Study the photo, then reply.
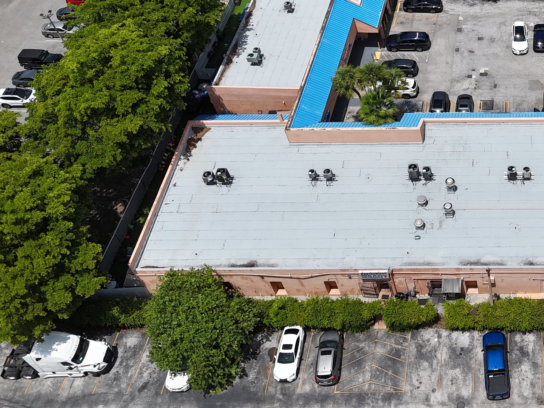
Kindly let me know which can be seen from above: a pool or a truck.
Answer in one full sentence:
Of the two, only a truck appears.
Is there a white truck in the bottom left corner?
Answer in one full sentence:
Yes, a white truck can be seen in the bottom left corner.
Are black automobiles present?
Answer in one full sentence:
Yes, there's a black automobile down there.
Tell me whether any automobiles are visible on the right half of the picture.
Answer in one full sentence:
Yes, an automobile appears on the right half of the picture.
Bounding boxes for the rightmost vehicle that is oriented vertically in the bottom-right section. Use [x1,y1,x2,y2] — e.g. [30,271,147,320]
[480,329,512,404]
